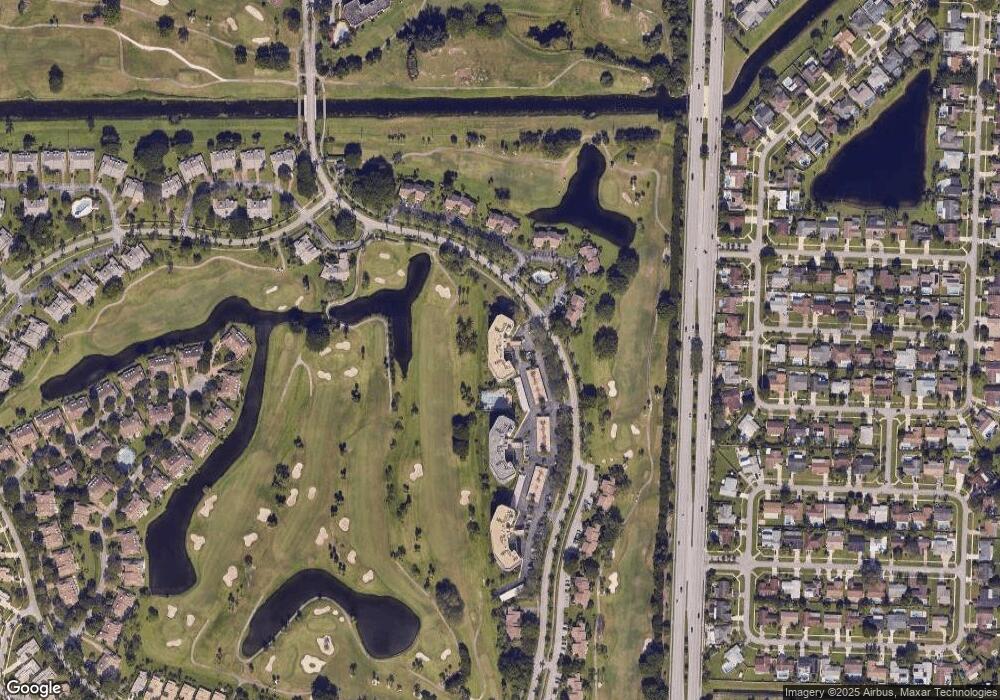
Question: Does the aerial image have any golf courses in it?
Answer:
Yes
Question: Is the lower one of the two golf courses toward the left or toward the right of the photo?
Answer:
left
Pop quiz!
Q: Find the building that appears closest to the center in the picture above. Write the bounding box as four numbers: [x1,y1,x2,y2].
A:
[485,312,522,381]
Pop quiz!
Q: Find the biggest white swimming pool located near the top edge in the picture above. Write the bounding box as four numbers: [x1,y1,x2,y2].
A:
[333,21,350,44]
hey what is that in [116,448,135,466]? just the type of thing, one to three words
swimming pool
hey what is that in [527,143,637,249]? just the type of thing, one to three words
pond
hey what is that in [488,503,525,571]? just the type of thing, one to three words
building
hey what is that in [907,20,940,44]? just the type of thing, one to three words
house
